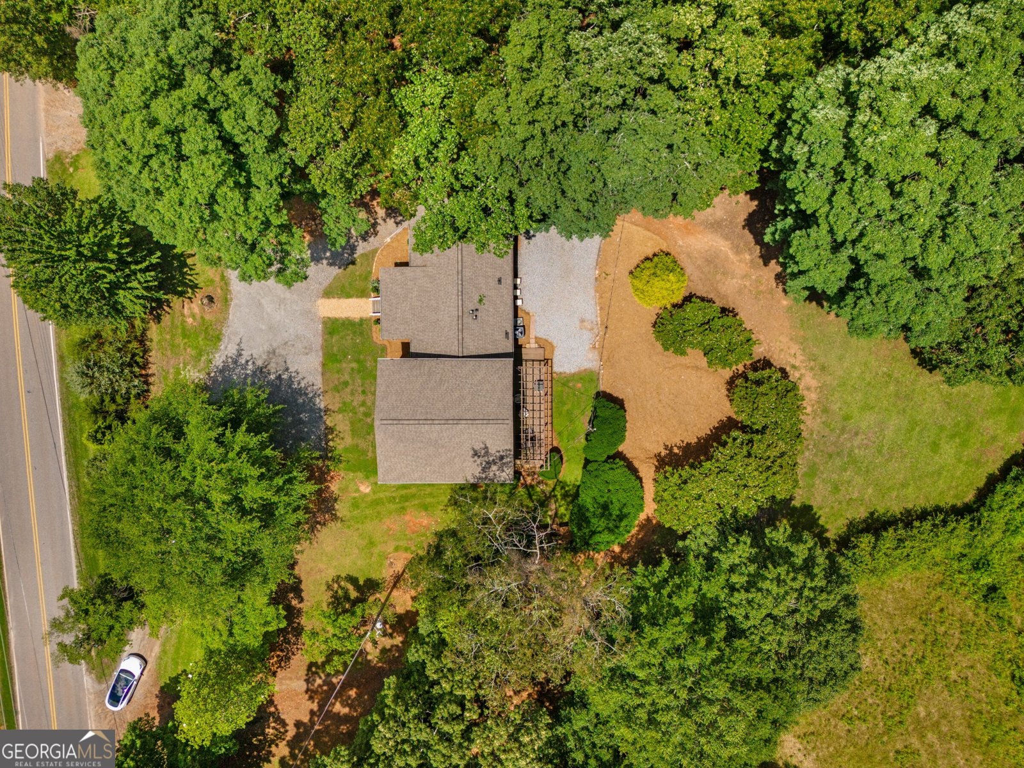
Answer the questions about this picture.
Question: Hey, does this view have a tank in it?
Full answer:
No, there isn't any tank down there.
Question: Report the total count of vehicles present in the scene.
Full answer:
The picture shows just 1 vehicle.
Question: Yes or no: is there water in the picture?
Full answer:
No, the picture contains no water.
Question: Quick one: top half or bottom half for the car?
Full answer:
The car sits in the bottom half of the picture.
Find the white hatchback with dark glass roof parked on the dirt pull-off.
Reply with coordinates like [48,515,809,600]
[107,650,149,707]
